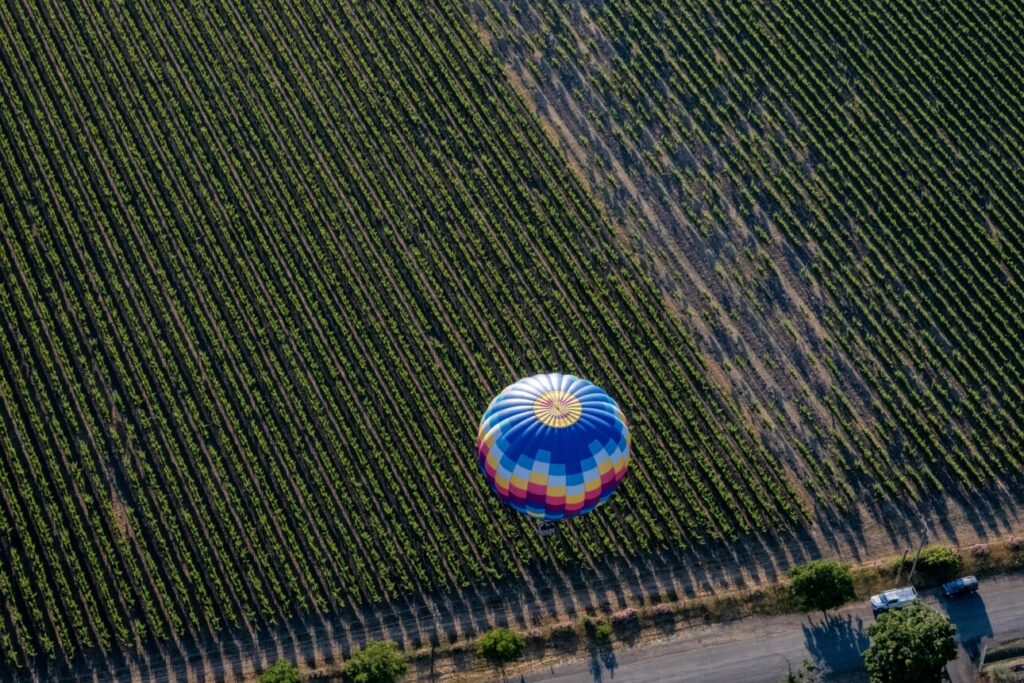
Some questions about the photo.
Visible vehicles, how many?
2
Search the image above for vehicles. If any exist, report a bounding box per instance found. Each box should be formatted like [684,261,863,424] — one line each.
[867,588,920,615]
[940,577,982,601]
